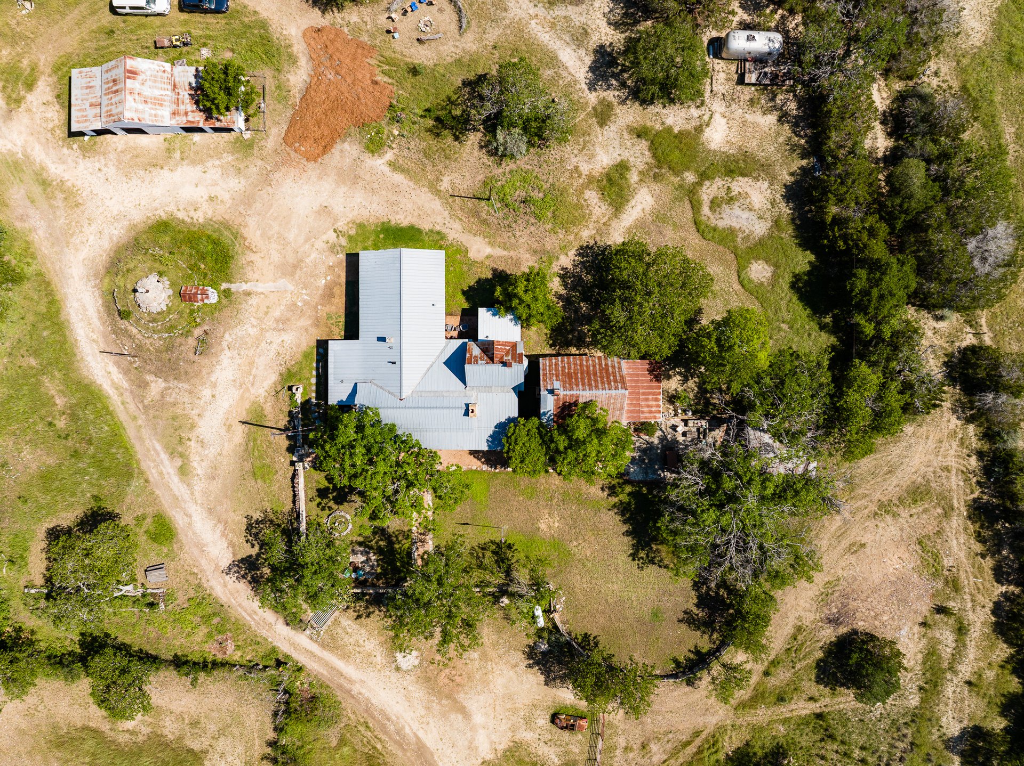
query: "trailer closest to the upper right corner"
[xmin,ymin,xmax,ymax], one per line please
[704,29,785,64]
